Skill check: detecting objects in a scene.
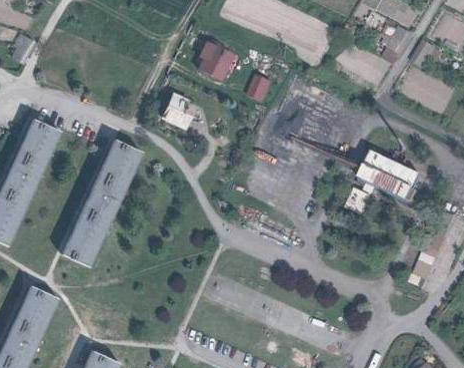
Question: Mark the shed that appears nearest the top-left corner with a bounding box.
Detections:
[11,34,35,65]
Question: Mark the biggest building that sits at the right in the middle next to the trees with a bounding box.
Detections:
[356,150,418,201]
